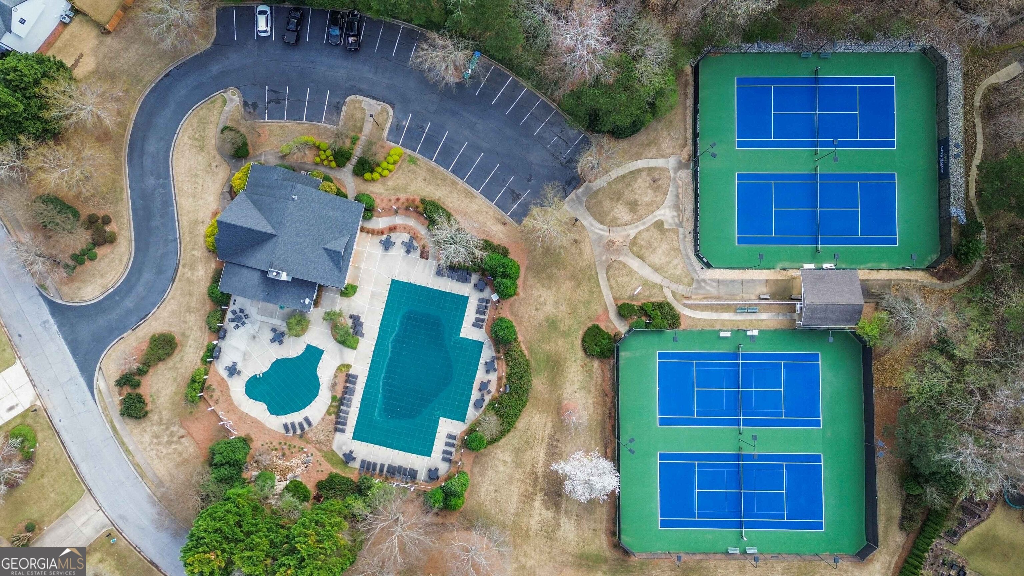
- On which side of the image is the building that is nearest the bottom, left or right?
right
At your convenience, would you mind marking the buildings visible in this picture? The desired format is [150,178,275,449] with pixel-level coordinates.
[215,162,366,313]
[795,268,864,329]
[0,0,82,56]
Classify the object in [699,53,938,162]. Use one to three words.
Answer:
tennis court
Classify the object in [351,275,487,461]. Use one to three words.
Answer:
swimming pool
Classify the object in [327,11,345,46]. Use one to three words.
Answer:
car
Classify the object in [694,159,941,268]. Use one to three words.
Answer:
tennis court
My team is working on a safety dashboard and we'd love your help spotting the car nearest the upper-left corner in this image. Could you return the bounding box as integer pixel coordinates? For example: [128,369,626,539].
[255,5,273,37]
